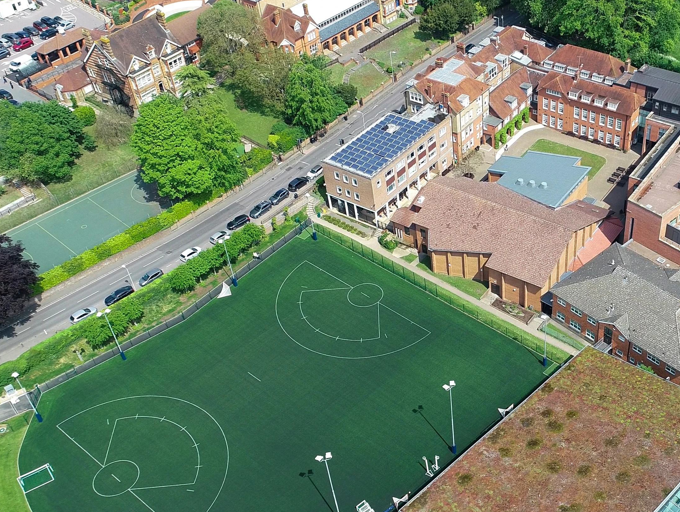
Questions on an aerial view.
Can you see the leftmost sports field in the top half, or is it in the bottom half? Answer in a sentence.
The leftmost sports field sits in the bottom half of the picture.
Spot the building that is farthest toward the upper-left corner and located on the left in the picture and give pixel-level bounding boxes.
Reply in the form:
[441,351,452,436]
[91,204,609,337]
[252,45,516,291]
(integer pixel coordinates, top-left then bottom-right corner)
[0,0,32,18]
